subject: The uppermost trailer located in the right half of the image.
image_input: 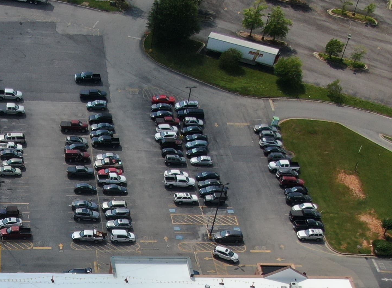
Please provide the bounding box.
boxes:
[208,34,279,69]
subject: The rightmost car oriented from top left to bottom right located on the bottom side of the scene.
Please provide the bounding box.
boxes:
[212,245,240,266]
